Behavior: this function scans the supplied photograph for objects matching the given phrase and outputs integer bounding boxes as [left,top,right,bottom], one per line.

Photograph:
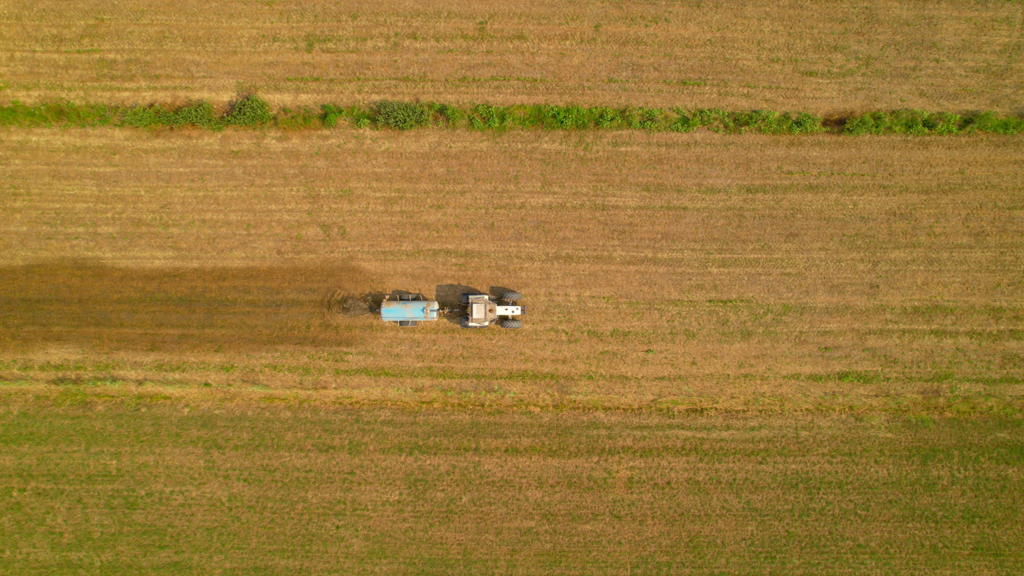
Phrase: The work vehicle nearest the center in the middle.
[456,292,528,329]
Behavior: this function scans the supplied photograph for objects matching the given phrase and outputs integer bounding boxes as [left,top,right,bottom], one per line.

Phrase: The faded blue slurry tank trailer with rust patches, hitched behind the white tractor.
[373,294,465,327]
